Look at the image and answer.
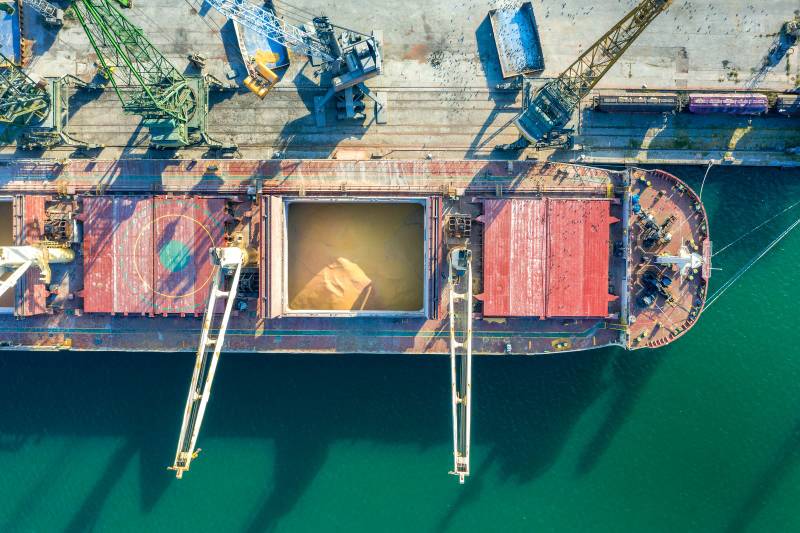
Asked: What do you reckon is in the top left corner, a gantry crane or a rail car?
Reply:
gantry crane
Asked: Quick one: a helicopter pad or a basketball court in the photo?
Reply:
helicopter pad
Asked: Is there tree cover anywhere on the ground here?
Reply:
No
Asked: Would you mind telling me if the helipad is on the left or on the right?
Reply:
left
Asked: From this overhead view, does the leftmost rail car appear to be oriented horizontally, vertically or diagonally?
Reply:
horizontally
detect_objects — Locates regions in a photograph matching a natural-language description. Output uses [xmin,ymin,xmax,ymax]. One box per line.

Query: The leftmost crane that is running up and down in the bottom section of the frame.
[167,238,262,476]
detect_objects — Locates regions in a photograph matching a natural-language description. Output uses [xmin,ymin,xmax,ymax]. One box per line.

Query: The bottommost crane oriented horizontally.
[0,235,81,274]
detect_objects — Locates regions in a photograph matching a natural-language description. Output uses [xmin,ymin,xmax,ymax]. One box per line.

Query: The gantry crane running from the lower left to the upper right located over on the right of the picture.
[480,0,675,152]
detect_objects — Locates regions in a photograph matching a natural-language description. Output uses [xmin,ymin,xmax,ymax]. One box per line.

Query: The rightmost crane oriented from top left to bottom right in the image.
[181,0,388,127]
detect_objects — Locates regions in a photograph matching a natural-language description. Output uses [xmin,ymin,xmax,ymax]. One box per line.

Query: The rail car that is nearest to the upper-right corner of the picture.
[764,92,800,114]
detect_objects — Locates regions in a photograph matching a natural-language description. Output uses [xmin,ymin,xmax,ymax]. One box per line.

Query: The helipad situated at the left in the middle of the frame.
[117,199,229,313]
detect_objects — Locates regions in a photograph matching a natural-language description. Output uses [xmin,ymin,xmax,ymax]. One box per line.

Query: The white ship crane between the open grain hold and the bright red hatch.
[441,240,473,482]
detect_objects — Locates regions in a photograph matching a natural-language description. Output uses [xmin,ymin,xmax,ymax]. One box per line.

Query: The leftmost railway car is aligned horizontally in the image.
[586,92,684,114]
